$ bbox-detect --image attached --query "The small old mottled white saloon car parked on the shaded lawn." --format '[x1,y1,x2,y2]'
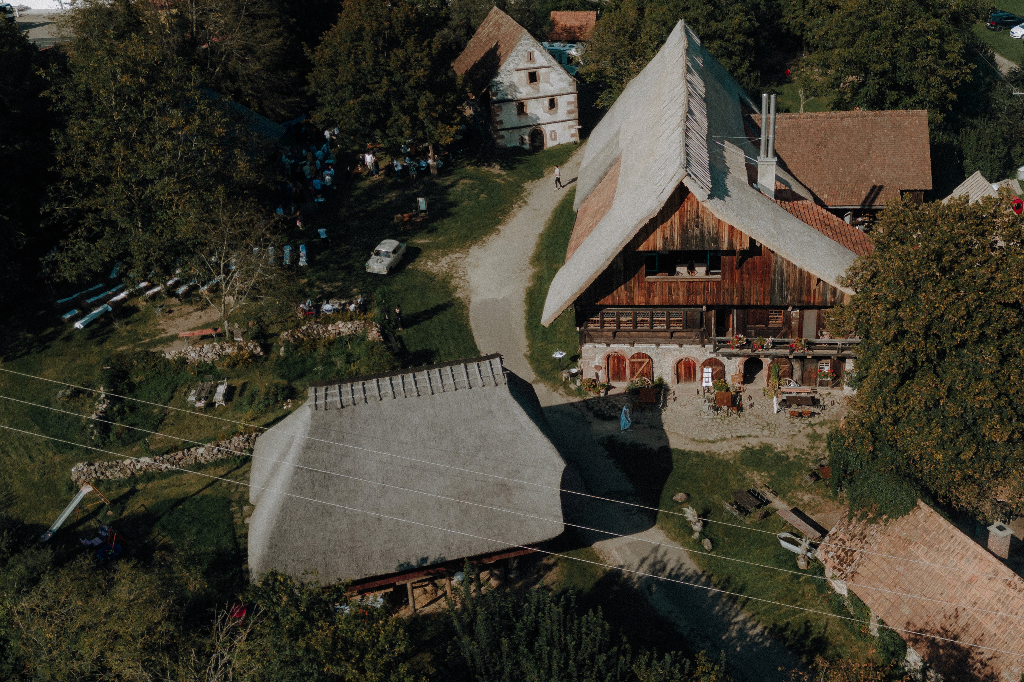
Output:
[363,237,407,274]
